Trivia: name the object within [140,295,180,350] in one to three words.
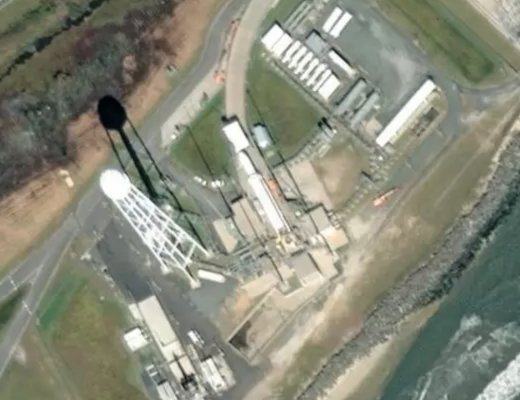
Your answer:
building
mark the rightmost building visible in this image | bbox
[376,80,440,150]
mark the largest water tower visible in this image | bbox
[98,167,214,288]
